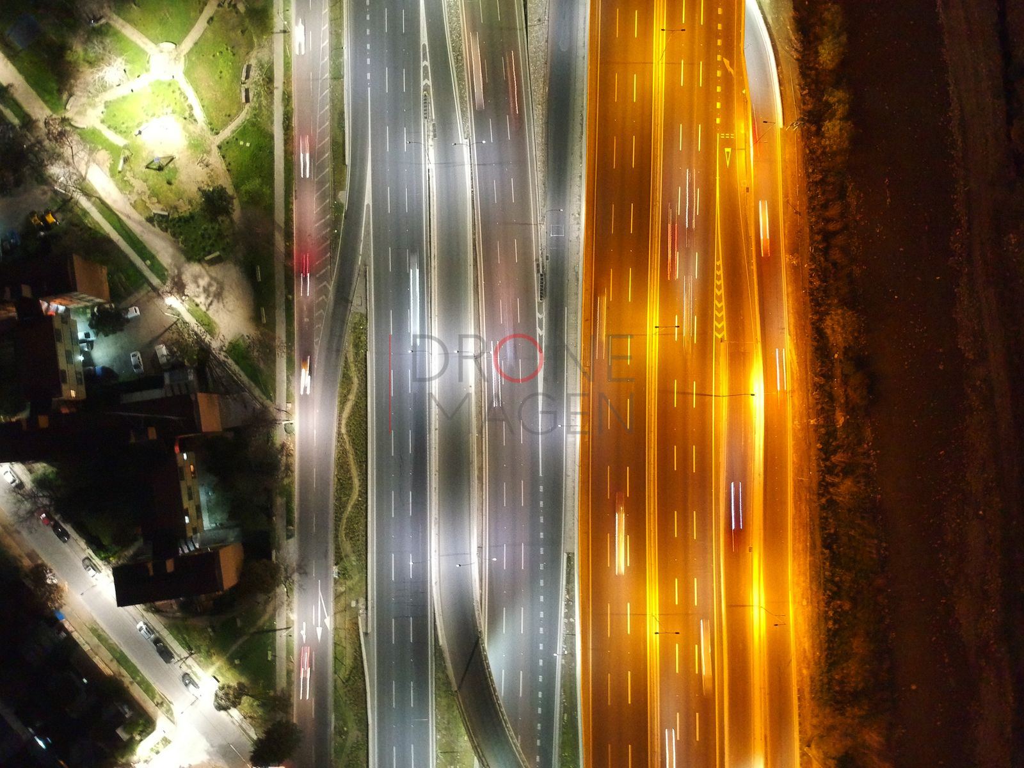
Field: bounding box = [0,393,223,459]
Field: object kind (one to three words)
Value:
building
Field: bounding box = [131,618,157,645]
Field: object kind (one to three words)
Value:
truck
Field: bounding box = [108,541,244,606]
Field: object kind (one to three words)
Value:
building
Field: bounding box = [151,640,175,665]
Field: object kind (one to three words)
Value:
car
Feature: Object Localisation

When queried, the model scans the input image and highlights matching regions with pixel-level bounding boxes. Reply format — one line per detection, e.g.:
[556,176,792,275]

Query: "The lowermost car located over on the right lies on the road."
[665,738,677,765]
